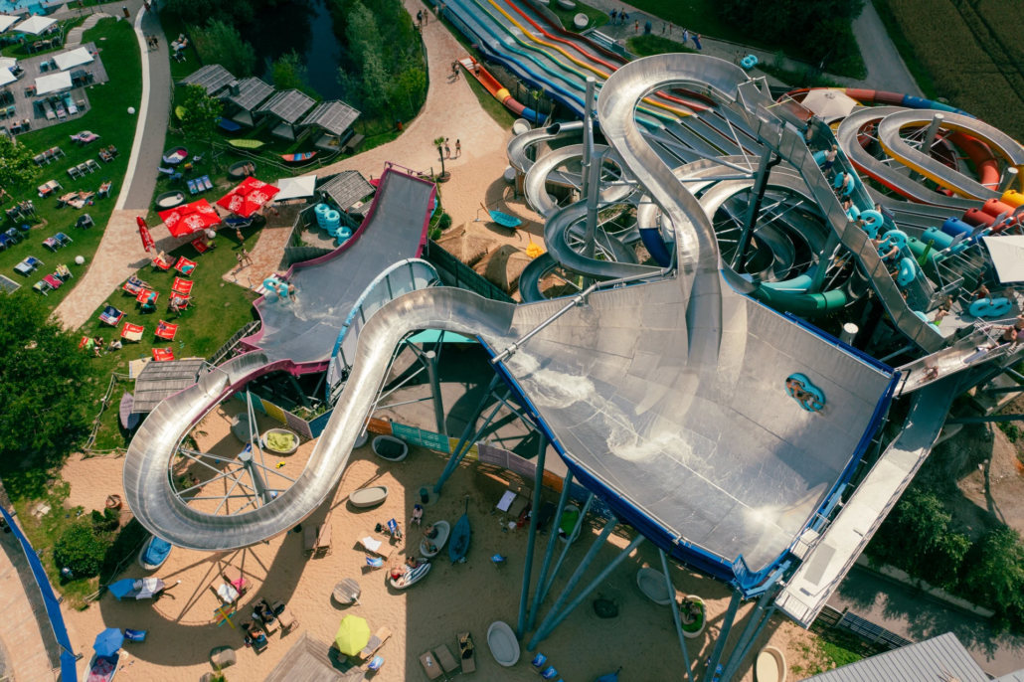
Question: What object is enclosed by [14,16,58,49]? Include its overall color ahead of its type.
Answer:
white umbrella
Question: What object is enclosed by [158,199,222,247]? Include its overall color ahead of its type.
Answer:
red umbrella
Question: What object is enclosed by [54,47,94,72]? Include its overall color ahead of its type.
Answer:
white umbrella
